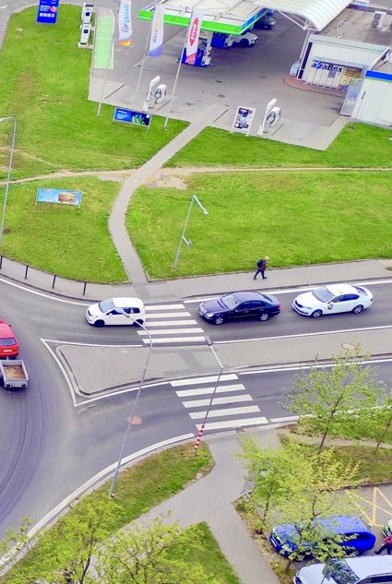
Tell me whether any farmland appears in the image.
No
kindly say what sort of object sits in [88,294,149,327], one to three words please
car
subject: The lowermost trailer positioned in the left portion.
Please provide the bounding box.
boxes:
[0,357,31,387]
